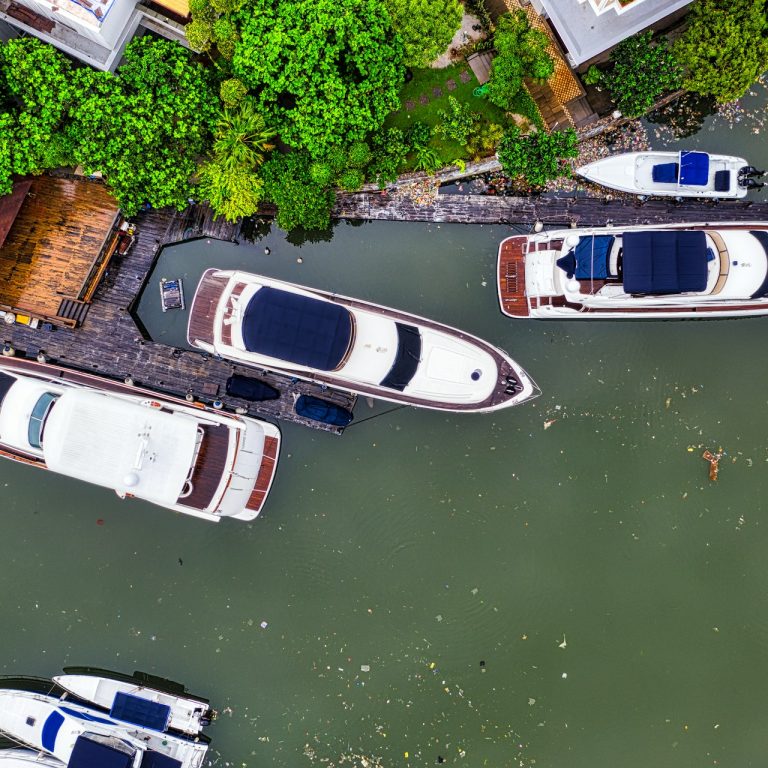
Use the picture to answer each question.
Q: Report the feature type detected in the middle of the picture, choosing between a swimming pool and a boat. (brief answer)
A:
boat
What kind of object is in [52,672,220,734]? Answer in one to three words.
boat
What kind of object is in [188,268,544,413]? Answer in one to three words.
boat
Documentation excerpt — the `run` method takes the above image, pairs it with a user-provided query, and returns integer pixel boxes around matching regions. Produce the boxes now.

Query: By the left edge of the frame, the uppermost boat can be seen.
[0,353,283,521]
